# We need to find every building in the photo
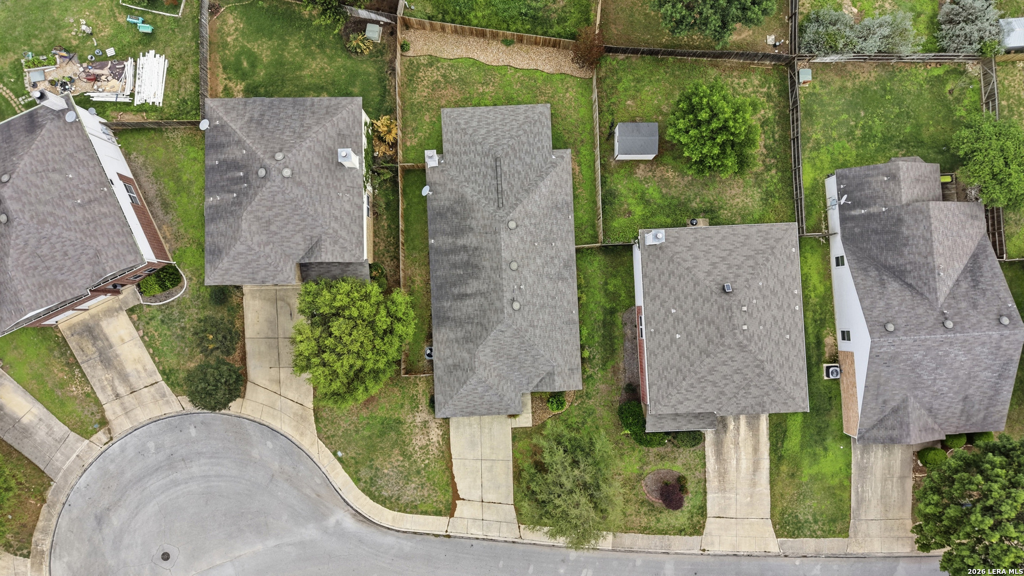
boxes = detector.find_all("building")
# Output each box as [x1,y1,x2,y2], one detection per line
[1000,11,1024,47]
[825,156,1023,444]
[424,103,582,419]
[614,123,658,159]
[0,85,176,339]
[203,96,374,286]
[632,222,809,433]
